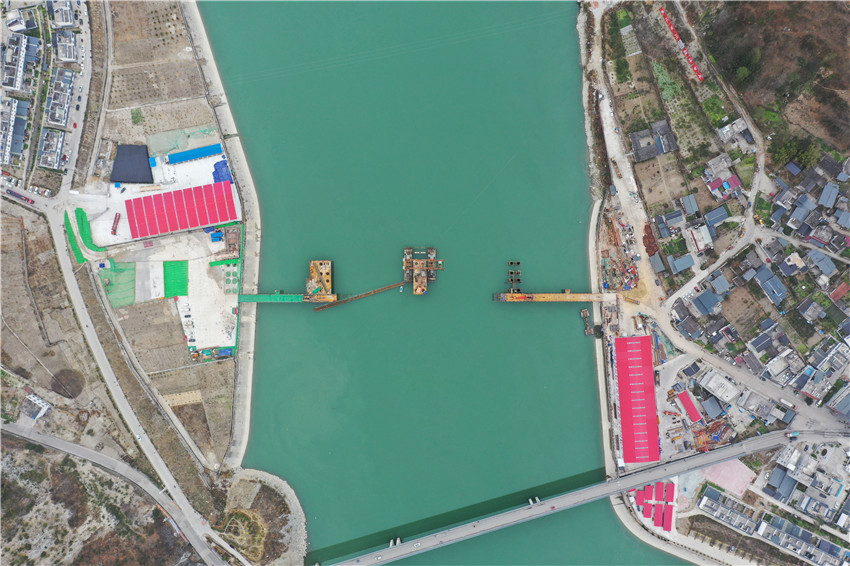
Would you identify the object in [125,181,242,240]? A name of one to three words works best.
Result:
building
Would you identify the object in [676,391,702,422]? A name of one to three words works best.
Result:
building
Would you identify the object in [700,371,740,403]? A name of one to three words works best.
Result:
house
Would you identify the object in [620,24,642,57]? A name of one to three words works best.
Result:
greenhouse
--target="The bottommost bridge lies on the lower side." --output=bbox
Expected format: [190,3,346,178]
[314,427,815,566]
